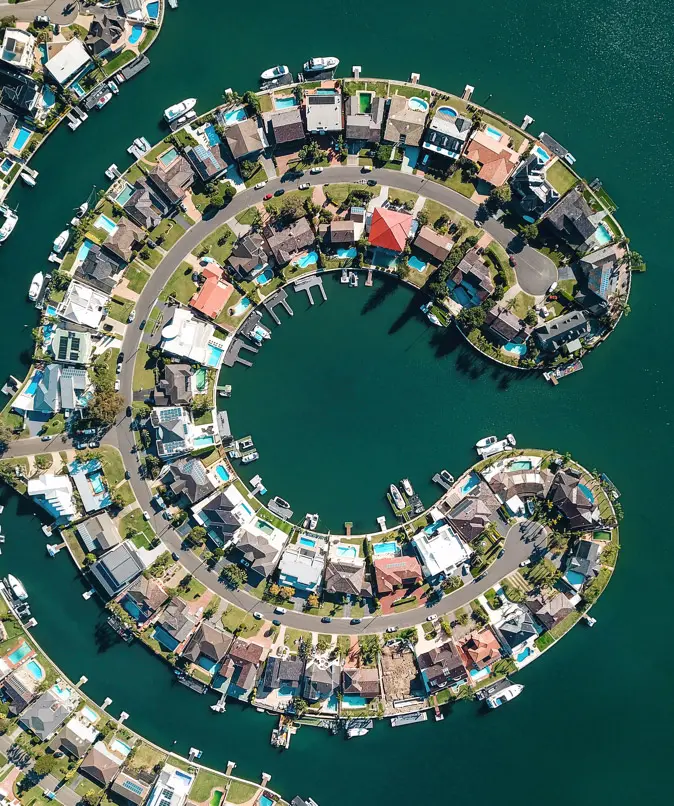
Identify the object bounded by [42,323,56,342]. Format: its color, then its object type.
blue swimming pool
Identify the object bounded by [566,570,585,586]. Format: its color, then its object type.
blue swimming pool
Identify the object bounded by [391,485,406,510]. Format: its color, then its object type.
white boat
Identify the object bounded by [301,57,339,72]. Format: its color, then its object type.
white boat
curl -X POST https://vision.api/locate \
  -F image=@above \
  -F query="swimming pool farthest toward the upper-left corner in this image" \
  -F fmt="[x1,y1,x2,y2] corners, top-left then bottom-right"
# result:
[37,41,50,68]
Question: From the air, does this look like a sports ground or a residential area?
residential area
